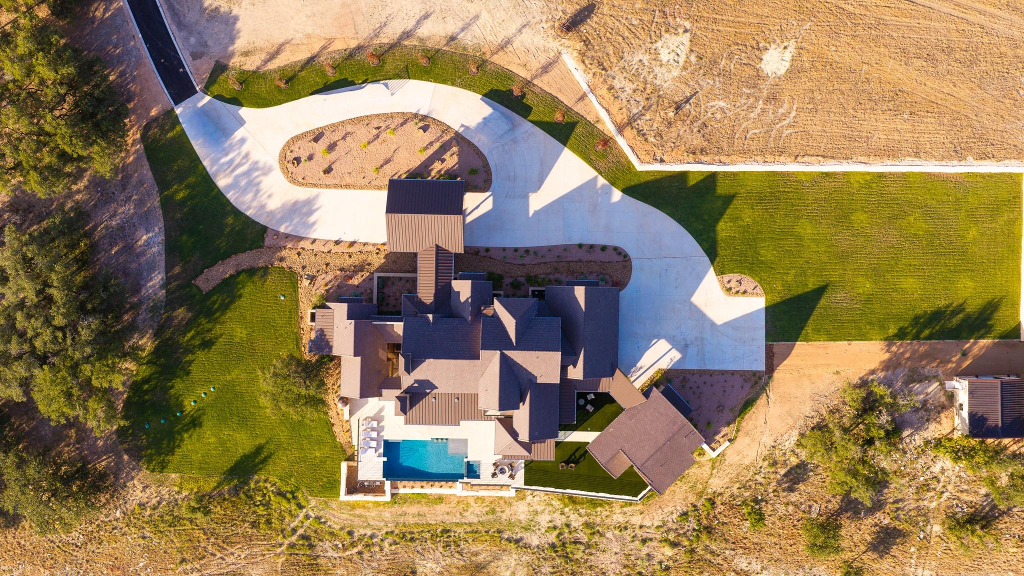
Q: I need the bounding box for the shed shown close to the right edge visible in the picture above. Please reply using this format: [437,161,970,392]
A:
[954,375,1024,439]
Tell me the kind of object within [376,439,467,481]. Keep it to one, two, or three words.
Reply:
swimming pool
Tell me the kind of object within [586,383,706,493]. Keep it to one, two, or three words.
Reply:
house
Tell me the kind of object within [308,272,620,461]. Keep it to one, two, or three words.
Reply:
house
